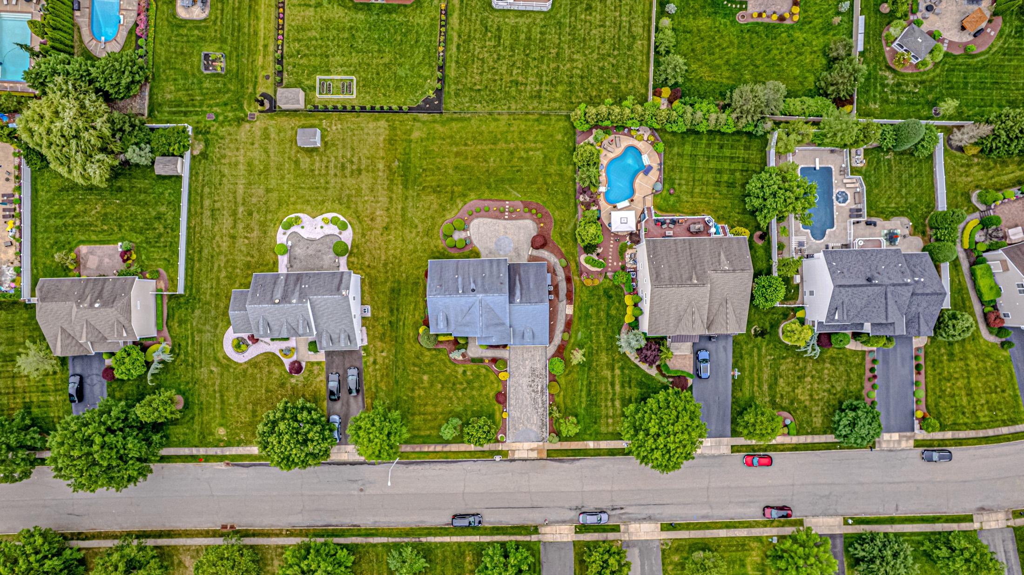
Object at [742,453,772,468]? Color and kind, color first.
red car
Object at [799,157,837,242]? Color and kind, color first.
blue swimming pool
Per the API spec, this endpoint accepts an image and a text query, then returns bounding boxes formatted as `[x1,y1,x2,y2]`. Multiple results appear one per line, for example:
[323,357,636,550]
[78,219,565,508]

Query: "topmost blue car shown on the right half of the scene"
[695,349,711,380]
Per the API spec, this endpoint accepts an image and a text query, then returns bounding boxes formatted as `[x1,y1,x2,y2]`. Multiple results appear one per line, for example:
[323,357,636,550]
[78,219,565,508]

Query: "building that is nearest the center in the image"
[425,258,550,346]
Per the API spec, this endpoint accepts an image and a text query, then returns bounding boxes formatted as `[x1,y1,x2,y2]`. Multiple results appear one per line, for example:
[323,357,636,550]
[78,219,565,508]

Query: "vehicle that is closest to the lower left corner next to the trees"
[68,374,86,403]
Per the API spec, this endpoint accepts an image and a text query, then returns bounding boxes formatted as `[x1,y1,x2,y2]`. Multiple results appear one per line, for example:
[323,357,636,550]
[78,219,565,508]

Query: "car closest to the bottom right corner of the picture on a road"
[919,448,953,463]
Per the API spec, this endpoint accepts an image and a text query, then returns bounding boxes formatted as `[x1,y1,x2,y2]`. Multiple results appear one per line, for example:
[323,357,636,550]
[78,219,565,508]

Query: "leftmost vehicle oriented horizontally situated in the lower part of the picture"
[451,512,482,526]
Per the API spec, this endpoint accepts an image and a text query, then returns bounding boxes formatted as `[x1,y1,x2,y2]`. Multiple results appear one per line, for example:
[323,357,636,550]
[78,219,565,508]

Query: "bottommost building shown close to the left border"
[32,277,156,357]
